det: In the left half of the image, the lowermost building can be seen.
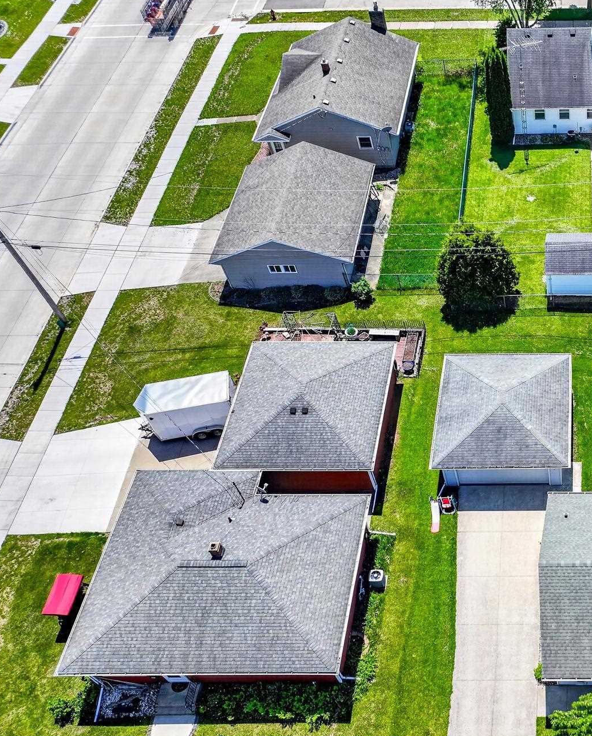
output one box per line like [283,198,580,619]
[53,469,400,717]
